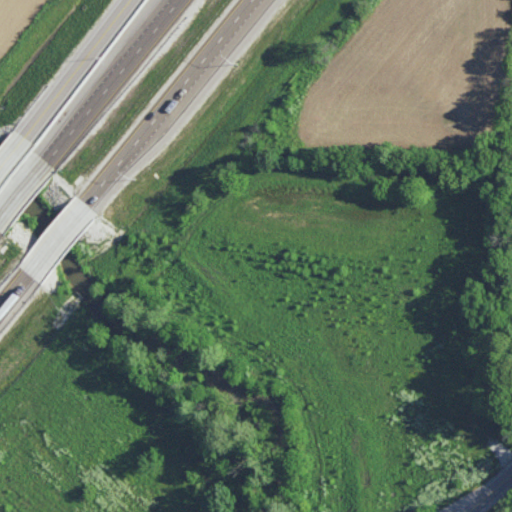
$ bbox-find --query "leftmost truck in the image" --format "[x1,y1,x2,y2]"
[0,286,26,321]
